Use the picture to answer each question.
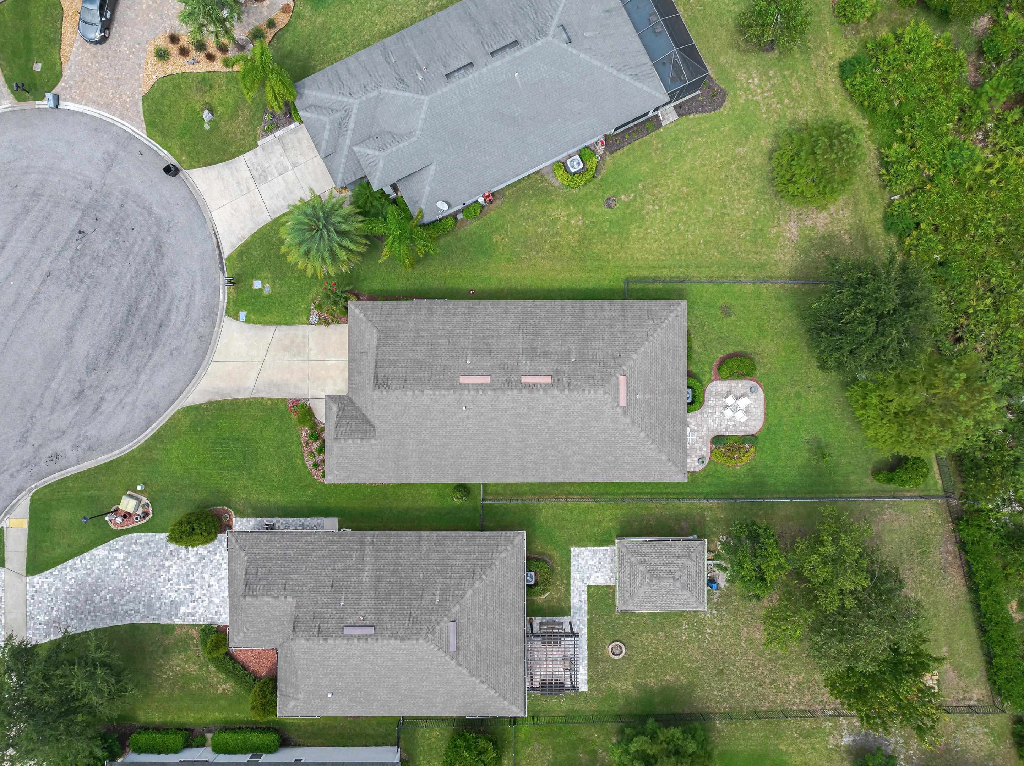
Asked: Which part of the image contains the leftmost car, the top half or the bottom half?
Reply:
top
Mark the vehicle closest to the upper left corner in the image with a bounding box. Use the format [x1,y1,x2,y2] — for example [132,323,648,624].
[75,0,113,44]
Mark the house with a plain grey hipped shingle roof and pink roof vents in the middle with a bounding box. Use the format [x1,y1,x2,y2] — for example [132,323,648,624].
[324,299,689,484]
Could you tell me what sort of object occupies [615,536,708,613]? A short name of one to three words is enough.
building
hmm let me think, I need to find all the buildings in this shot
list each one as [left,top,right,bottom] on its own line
[106,748,401,766]
[289,0,671,229]
[225,525,527,719]
[615,536,708,613]
[324,299,689,484]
